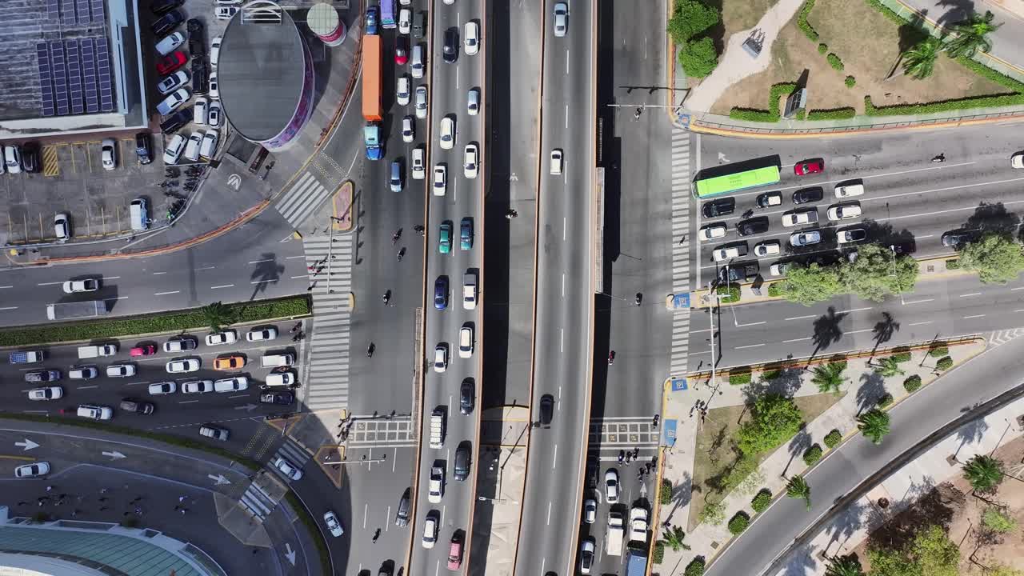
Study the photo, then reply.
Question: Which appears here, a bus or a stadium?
bus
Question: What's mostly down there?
paved ground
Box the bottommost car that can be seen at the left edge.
[16,461,53,476]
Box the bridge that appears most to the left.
[406,0,485,576]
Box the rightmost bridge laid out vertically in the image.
[512,0,597,576]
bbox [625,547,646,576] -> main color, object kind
blue truck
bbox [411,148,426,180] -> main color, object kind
white car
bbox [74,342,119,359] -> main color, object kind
white vehicle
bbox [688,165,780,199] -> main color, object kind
green bus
